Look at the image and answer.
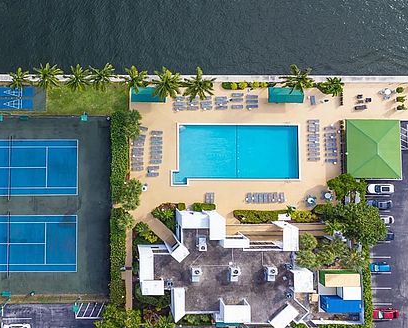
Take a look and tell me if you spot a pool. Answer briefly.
Yes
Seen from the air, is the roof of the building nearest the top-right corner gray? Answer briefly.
No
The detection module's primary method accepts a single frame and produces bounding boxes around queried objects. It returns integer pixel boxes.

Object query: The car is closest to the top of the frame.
[367,182,398,196]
